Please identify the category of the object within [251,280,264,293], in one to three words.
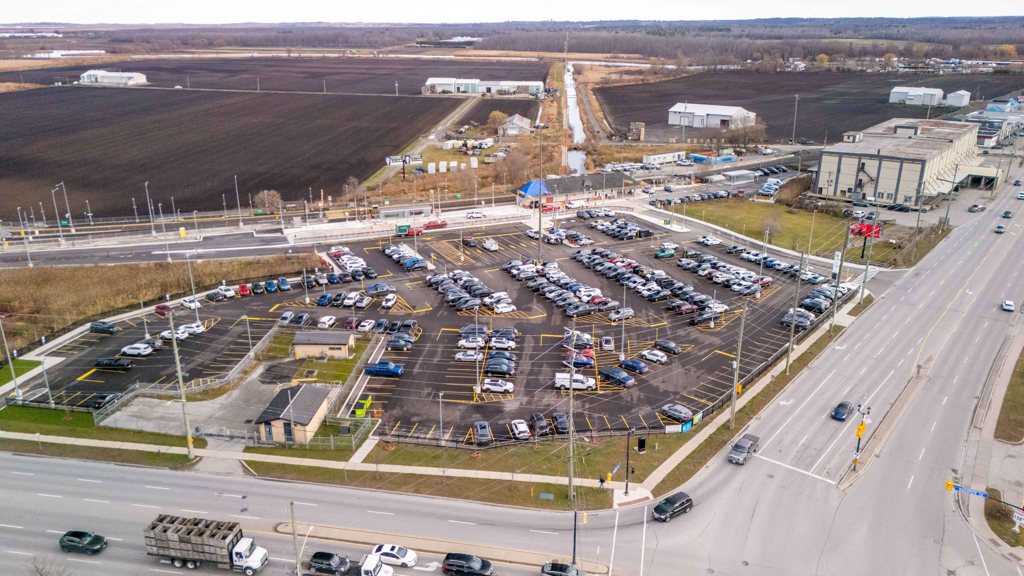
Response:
vehicle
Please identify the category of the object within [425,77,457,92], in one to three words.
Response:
shed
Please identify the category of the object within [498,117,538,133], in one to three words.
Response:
barn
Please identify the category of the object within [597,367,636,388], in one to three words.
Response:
truck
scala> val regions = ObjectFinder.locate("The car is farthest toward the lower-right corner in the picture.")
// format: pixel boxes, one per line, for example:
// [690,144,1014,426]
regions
[830,402,855,423]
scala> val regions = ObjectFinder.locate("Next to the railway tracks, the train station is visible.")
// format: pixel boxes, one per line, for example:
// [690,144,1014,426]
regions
[510,172,649,208]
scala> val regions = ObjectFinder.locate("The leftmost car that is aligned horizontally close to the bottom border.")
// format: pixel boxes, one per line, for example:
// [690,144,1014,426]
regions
[57,532,109,558]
